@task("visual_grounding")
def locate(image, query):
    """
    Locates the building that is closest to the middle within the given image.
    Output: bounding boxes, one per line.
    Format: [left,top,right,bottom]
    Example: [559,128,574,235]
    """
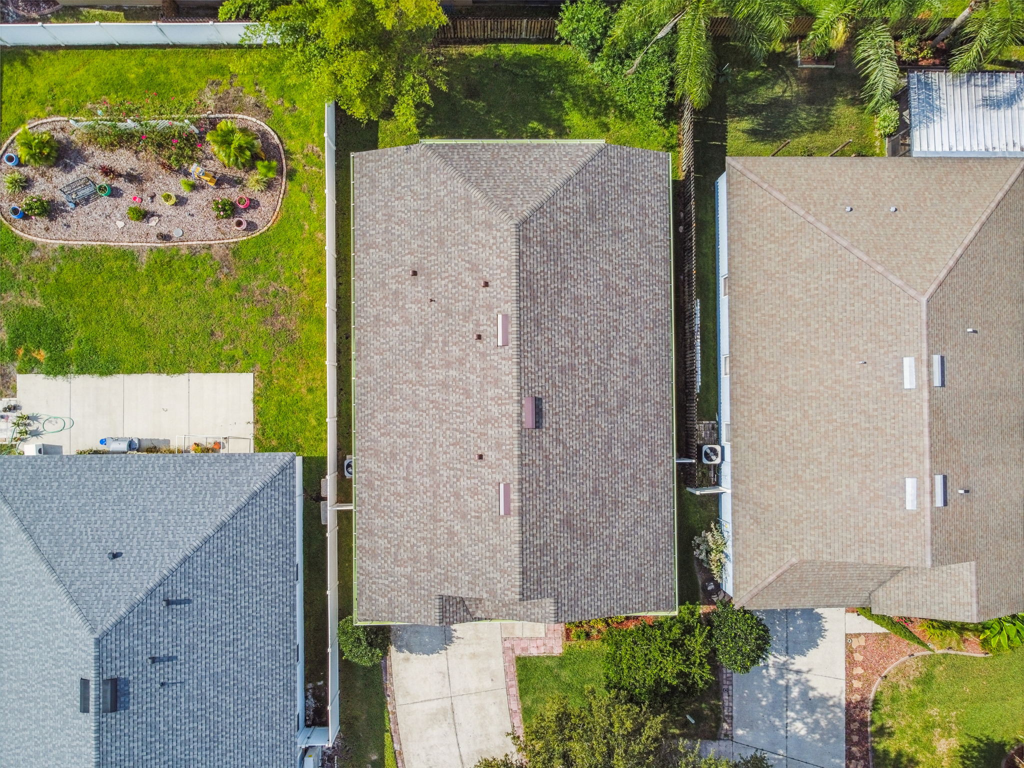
[351,140,678,626]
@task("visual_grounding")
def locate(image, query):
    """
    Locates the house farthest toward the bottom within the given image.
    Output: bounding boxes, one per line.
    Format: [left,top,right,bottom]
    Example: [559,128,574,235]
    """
[0,450,305,768]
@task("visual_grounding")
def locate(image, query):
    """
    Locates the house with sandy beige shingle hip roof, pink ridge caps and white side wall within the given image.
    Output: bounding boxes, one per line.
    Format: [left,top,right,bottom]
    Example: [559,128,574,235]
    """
[718,155,1024,622]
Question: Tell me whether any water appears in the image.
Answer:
No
